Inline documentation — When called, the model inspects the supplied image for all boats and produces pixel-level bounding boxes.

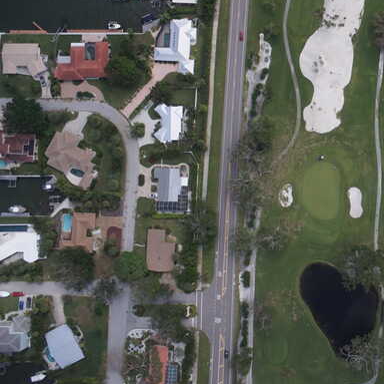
[106,22,121,28]
[140,14,157,24]
[6,206,25,212]
[39,184,55,189]
[28,375,47,383]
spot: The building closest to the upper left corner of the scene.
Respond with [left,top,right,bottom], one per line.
[2,43,50,79]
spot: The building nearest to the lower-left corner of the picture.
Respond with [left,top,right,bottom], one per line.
[0,315,34,352]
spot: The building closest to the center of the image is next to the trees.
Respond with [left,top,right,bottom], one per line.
[154,167,189,201]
